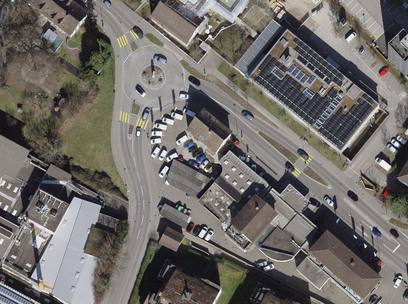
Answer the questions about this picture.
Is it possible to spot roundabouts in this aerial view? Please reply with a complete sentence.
Yes, there's a roundabout down there.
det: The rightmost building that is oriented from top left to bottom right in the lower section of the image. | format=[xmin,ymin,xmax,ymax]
[308,230,382,304]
